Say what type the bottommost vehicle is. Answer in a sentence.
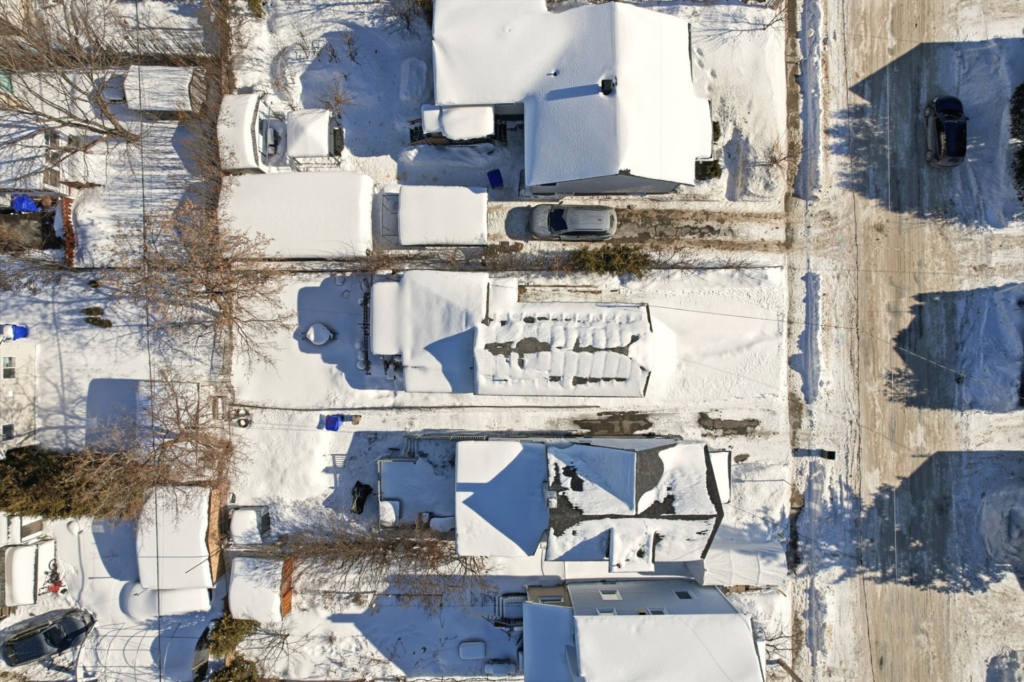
In the photo, the bottommost vehicle shows up as an automobile.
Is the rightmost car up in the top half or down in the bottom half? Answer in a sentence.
The rightmost car is in the top half of the image.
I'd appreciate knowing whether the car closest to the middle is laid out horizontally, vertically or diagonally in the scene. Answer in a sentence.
I'd say the car closest to the middle is aligned horizontally in the picture.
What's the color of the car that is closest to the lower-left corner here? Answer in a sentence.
From above, the car that is closest to the lower-left corner appears black.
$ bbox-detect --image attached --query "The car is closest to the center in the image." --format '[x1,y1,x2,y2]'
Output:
[529,201,614,242]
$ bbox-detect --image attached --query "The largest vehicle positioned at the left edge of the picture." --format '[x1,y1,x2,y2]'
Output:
[2,602,90,663]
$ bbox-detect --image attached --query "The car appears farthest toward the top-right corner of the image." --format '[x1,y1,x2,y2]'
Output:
[925,97,971,170]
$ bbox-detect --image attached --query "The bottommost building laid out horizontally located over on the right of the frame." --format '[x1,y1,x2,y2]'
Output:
[524,580,759,682]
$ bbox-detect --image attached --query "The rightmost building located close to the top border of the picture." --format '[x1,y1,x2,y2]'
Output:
[431,0,712,198]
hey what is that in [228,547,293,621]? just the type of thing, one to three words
shed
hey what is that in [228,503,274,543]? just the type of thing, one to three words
shed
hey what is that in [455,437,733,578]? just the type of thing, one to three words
house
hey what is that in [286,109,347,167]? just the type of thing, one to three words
gazebo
